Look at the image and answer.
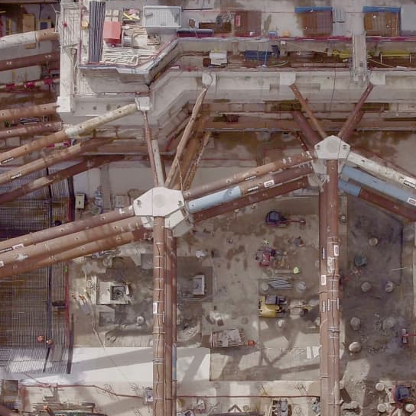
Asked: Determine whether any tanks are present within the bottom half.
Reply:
No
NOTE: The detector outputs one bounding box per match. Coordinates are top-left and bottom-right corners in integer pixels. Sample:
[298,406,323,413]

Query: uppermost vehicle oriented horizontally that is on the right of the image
[268,209,307,226]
